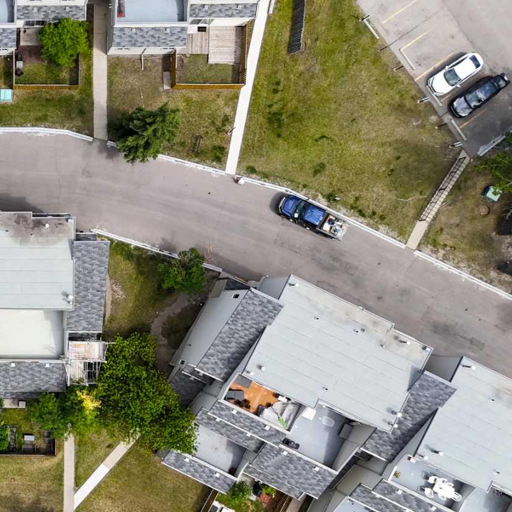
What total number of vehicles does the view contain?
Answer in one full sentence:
In total, 3 vehicles can be seen.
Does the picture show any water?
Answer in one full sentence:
No, there is no water in the image.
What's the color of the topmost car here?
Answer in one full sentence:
The topmost car looks white in the image.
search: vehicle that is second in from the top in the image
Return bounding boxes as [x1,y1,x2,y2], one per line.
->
[447,74,510,122]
